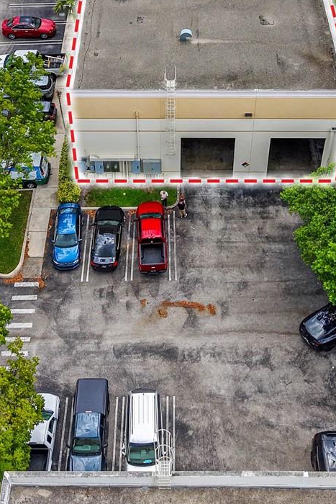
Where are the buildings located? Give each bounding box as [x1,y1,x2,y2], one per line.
[4,471,336,504]
[67,0,336,182]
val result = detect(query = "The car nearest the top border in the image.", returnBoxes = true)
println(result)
[0,11,60,37]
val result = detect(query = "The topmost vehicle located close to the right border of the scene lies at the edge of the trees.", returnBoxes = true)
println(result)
[298,297,336,349]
